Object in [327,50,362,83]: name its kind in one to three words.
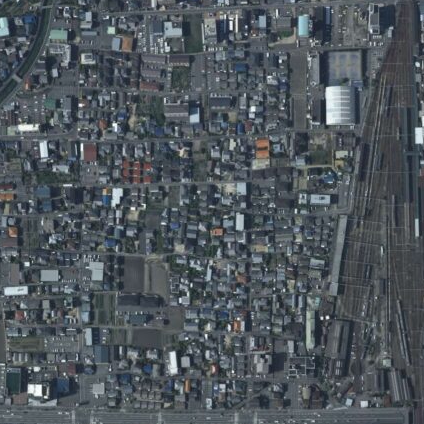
sports court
